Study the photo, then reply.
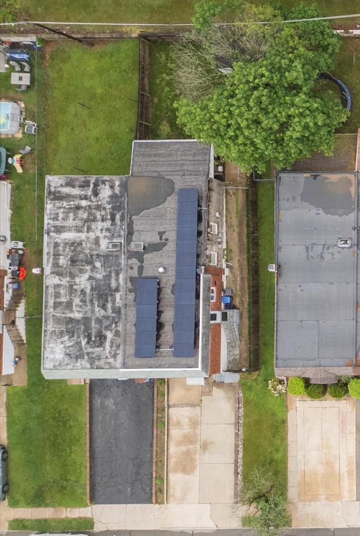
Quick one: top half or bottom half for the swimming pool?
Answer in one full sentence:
The top half of the photo is where the swimming pool is.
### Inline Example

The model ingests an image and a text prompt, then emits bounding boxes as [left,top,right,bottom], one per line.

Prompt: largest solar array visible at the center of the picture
[172,189,199,357]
